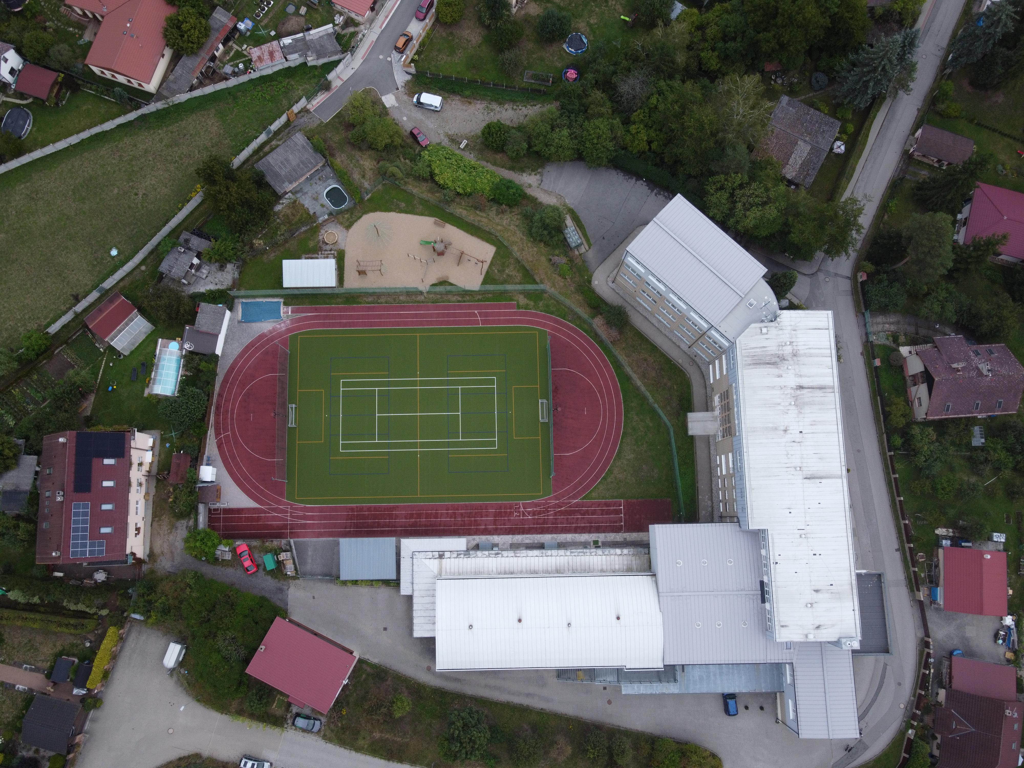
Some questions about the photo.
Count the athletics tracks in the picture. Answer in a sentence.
My tally gives 1 athletics track in this photo.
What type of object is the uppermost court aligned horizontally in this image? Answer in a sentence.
From above, the uppermost court aligned horizontally can be identified as a tennis court.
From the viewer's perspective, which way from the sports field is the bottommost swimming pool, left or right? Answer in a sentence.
It is on the left side of the sports field that the bottommost swimming pool is positioned.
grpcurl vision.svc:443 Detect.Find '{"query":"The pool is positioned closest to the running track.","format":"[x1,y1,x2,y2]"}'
[149,339,183,395]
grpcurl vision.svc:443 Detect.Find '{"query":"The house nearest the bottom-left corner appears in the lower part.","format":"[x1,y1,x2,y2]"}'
[22,693,85,755]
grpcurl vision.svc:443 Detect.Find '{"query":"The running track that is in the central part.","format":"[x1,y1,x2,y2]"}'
[208,302,672,539]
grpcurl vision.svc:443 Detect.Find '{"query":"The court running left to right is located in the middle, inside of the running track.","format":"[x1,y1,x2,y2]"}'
[340,377,497,452]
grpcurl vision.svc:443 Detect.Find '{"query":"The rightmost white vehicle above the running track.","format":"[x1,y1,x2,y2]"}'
[412,92,444,112]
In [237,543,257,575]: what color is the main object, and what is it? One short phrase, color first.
red car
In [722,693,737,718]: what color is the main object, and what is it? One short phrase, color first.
blue car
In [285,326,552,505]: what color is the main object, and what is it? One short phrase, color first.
green sports field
